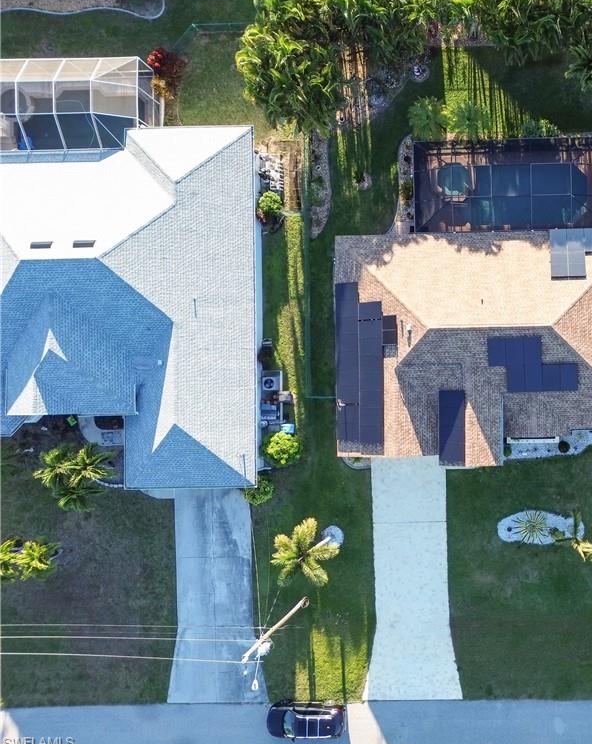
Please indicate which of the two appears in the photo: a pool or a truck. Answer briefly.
pool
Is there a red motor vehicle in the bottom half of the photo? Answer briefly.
No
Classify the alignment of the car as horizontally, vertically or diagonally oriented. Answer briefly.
horizontally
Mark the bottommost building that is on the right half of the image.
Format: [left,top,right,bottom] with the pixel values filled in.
[332,229,592,469]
